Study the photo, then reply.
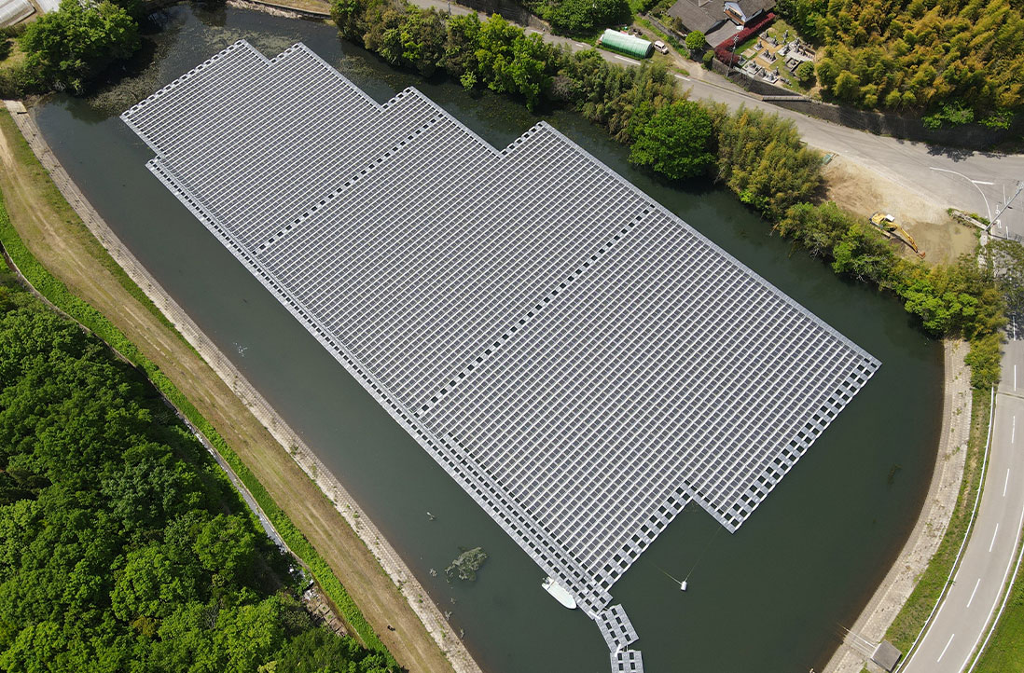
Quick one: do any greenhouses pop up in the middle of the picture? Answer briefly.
No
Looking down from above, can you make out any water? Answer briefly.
Yes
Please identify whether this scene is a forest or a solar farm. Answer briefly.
solar farm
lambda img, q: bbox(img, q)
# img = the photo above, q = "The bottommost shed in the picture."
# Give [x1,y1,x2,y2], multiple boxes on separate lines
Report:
[865,639,902,672]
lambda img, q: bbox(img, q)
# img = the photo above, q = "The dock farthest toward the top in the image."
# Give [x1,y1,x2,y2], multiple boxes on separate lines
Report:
[595,604,637,652]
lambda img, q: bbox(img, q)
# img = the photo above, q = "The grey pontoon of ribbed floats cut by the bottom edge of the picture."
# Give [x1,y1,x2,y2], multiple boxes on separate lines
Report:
[610,652,643,673]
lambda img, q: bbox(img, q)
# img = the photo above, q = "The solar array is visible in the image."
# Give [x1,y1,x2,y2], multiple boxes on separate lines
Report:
[119,38,883,621]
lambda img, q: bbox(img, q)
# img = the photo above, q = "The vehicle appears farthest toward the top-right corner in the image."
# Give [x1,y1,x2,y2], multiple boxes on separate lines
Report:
[869,212,931,258]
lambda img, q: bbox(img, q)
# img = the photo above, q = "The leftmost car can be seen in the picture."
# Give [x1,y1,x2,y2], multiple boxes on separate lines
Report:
[652,39,669,55]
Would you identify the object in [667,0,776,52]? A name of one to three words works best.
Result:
house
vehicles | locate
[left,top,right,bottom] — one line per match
[652,39,669,55]
[869,212,931,258]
